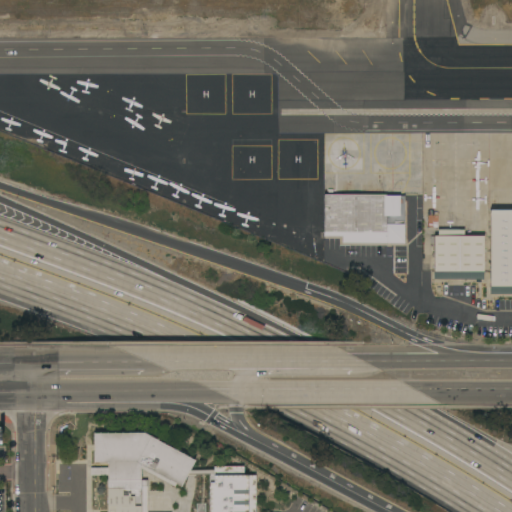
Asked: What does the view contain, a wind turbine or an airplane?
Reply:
airplane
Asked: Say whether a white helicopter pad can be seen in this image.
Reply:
No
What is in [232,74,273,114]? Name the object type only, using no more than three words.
helipad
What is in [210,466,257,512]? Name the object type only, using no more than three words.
building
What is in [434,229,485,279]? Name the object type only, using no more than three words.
hangar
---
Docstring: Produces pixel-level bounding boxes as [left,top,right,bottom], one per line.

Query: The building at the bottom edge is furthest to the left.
[91,432,196,512]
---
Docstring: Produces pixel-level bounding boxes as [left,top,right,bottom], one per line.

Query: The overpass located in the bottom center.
[0,341,452,408]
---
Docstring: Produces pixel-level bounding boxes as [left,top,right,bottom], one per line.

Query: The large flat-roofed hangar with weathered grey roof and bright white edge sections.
[323,194,406,244]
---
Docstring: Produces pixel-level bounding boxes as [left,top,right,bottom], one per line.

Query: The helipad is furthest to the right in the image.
[278,140,318,180]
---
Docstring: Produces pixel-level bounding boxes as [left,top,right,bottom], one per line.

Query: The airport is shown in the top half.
[0,0,512,311]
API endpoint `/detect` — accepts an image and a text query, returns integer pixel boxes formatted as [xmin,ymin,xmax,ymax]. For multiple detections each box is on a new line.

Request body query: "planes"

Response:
[0,117,20,130]
[191,192,213,208]
[147,173,168,190]
[474,151,490,172]
[474,173,488,190]
[152,112,172,128]
[54,137,68,152]
[122,96,144,112]
[124,112,144,130]
[425,186,439,208]
[124,167,144,181]
[474,191,487,209]
[32,128,53,142]
[213,202,236,218]
[236,210,258,226]
[76,80,98,94]
[60,87,80,104]
[78,146,98,161]
[39,75,60,90]
[169,180,190,198]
